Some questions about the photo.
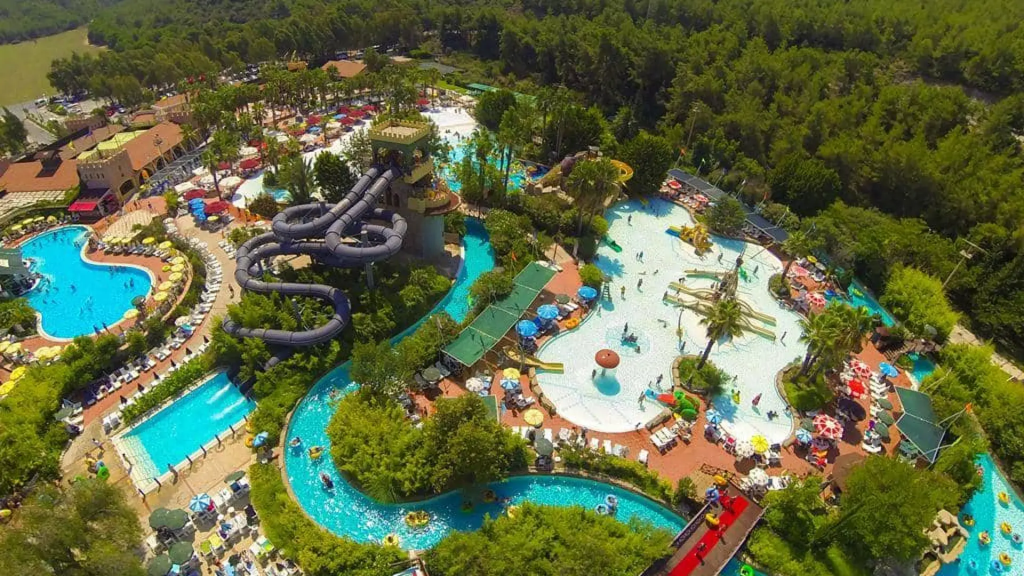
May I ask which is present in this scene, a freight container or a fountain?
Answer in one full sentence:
Of the two, only a fountain appears.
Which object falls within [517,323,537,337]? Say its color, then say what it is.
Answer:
blue umbrella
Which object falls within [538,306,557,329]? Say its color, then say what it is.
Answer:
blue umbrella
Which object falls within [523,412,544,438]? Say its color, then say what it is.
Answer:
yellow umbrella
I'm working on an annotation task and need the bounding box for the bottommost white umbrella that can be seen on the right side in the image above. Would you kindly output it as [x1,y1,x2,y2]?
[745,468,769,493]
